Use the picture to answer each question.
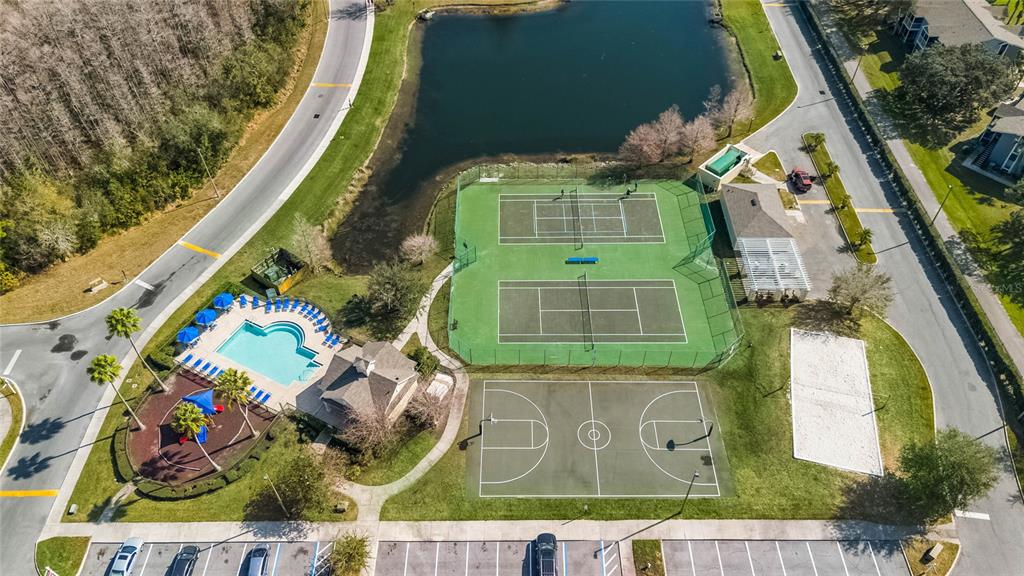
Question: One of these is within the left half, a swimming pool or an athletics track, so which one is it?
swimming pool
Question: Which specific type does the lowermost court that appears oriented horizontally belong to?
basketball court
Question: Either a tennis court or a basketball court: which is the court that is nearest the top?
tennis court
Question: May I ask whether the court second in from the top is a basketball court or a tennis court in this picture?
tennis court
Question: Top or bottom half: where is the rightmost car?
top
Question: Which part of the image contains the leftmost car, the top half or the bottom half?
bottom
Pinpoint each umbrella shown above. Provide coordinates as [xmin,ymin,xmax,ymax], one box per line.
[197,312,218,331]
[178,329,201,348]
[215,296,236,315]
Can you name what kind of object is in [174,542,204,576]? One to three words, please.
car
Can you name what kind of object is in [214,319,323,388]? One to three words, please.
swimming pool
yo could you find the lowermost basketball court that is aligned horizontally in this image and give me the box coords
[466,377,736,504]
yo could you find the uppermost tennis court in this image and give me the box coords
[498,193,666,244]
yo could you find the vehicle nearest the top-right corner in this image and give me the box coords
[788,169,815,191]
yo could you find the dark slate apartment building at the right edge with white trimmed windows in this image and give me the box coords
[969,93,1024,173]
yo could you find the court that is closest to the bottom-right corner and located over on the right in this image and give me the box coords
[791,327,885,477]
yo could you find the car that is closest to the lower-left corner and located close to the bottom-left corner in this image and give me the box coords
[111,534,144,576]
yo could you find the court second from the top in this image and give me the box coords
[497,279,687,344]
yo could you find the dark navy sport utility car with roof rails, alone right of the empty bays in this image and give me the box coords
[534,533,557,576]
